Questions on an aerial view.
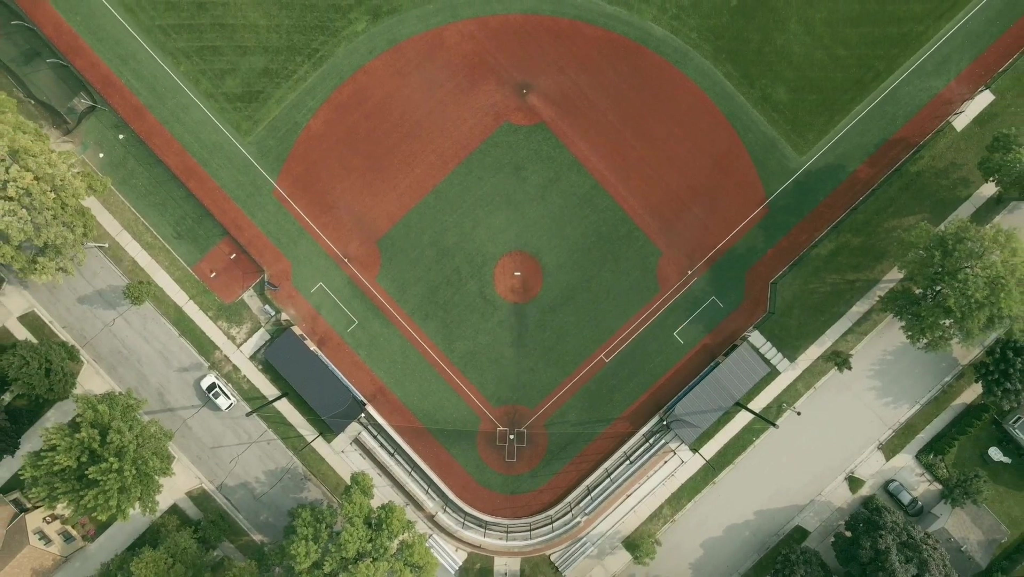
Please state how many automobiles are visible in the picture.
2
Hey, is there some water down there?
No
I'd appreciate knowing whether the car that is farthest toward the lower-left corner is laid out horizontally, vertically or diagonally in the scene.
diagonally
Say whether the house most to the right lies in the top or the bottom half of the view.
bottom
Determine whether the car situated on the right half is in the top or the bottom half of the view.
bottom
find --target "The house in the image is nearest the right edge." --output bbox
[995,408,1024,444]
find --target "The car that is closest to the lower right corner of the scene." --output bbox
[884,476,922,518]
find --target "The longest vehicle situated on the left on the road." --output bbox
[201,374,238,413]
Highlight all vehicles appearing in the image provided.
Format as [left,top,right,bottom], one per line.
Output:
[884,476,922,518]
[201,374,238,413]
